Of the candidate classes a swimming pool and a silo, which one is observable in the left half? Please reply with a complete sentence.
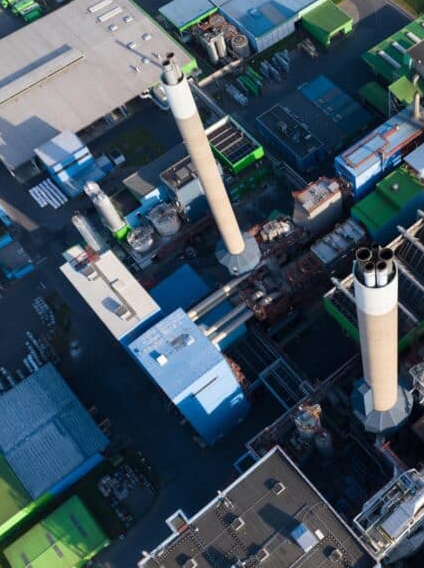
The one visible in the left half is a silo.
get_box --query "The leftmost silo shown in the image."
[67,213,104,254]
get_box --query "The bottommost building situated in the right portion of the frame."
[141,448,378,568]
